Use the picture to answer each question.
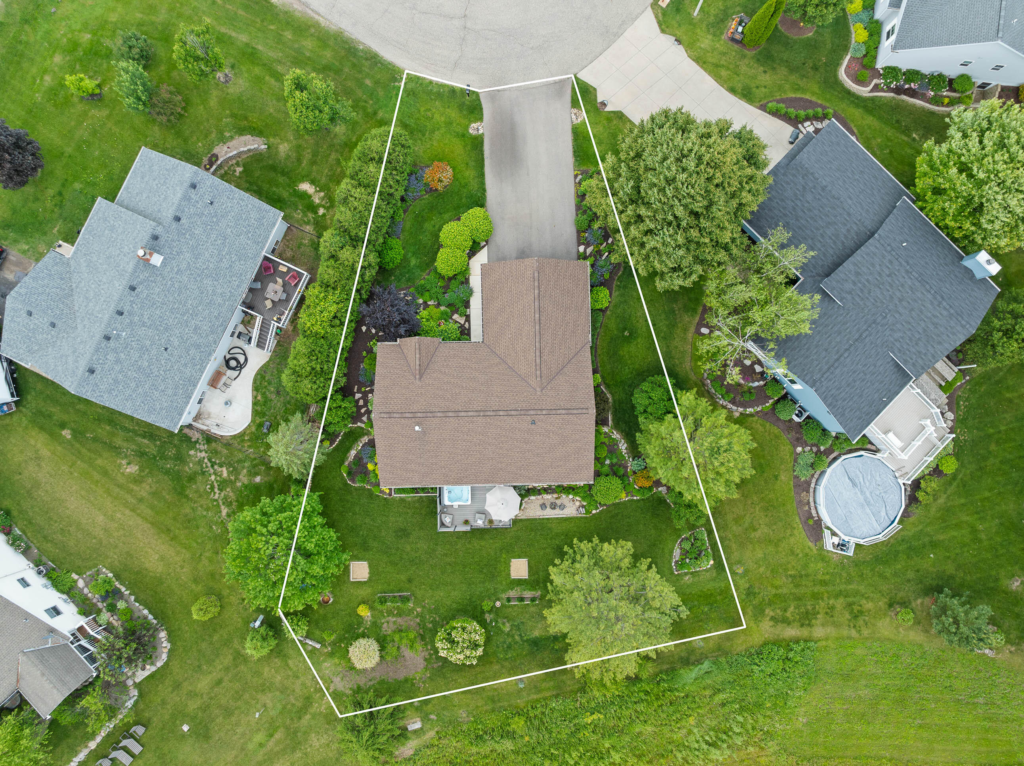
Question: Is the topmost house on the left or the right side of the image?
right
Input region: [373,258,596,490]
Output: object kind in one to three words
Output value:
house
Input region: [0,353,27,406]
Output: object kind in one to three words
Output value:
camper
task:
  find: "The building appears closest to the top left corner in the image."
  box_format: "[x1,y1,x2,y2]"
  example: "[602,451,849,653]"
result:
[0,145,291,435]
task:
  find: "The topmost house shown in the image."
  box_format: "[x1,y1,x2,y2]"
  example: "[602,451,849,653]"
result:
[871,0,1024,83]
